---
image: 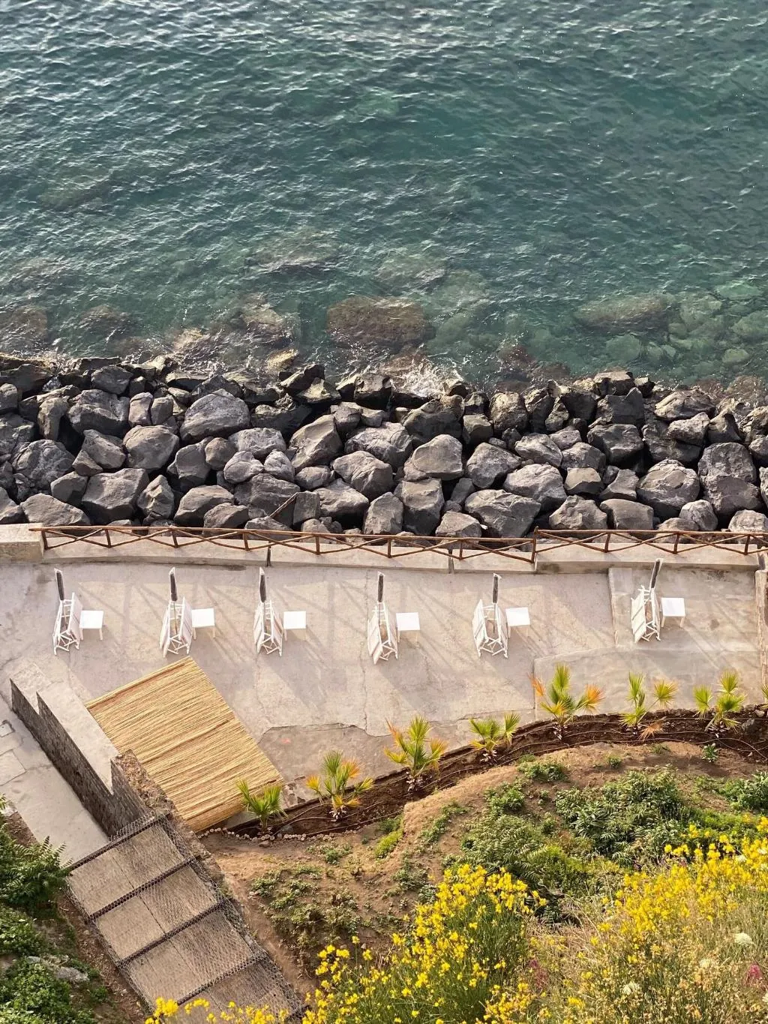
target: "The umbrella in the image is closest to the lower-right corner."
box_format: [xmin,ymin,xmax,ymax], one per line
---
[644,557,663,624]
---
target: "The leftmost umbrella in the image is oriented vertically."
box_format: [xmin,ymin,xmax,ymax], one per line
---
[50,565,69,629]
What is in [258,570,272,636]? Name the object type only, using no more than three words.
umbrella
